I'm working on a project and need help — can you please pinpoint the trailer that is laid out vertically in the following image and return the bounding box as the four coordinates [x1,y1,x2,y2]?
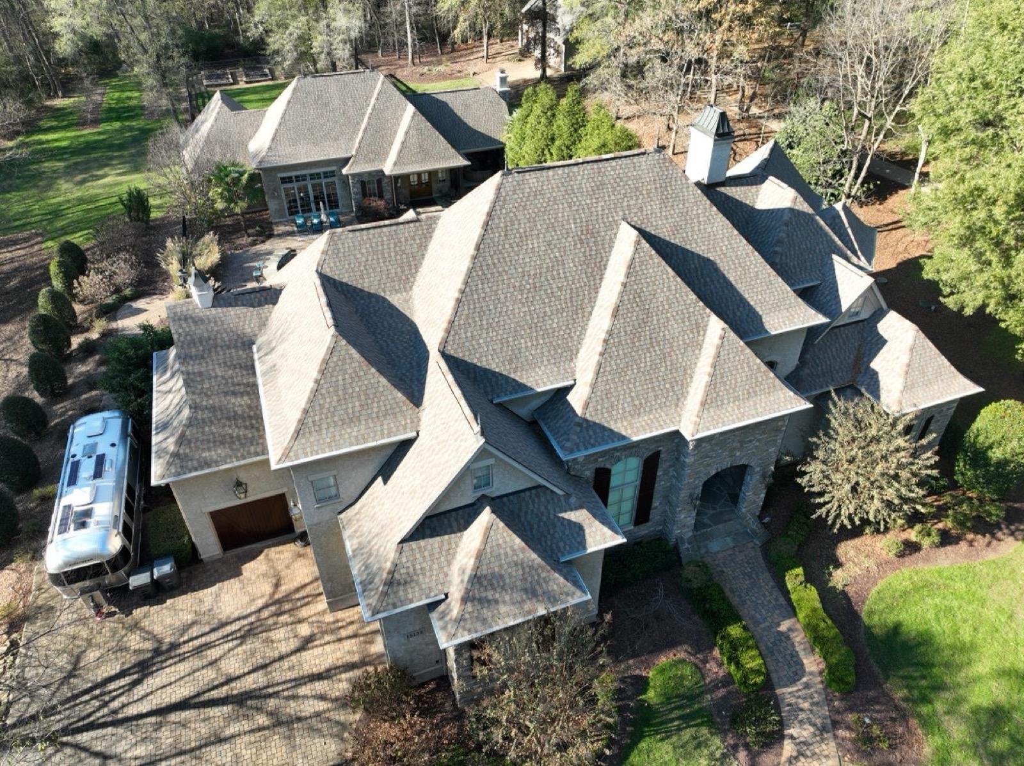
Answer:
[51,416,151,627]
